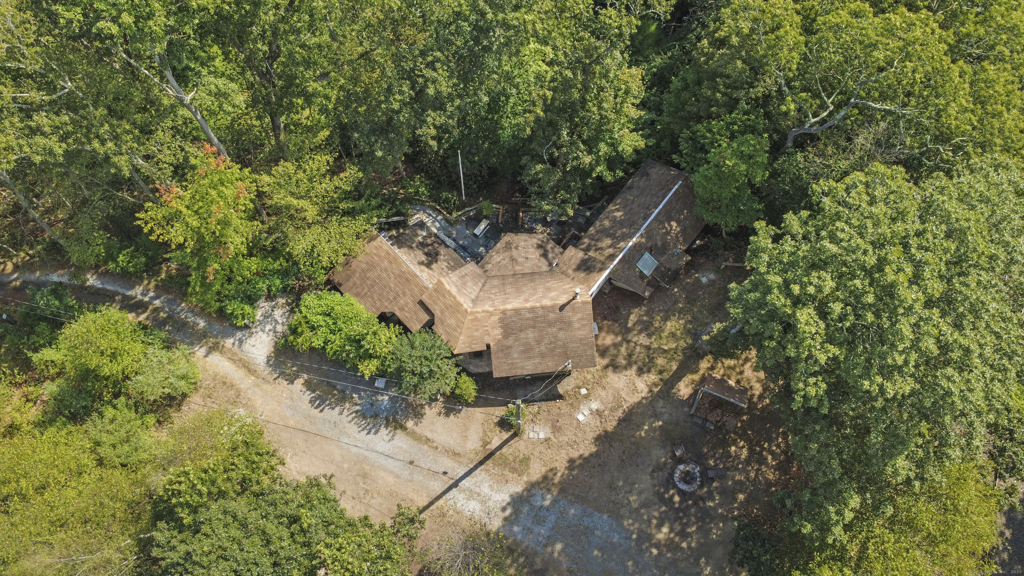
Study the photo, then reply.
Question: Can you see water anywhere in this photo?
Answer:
No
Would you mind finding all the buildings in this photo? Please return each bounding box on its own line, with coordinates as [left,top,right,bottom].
[687,372,749,436]
[329,159,715,385]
